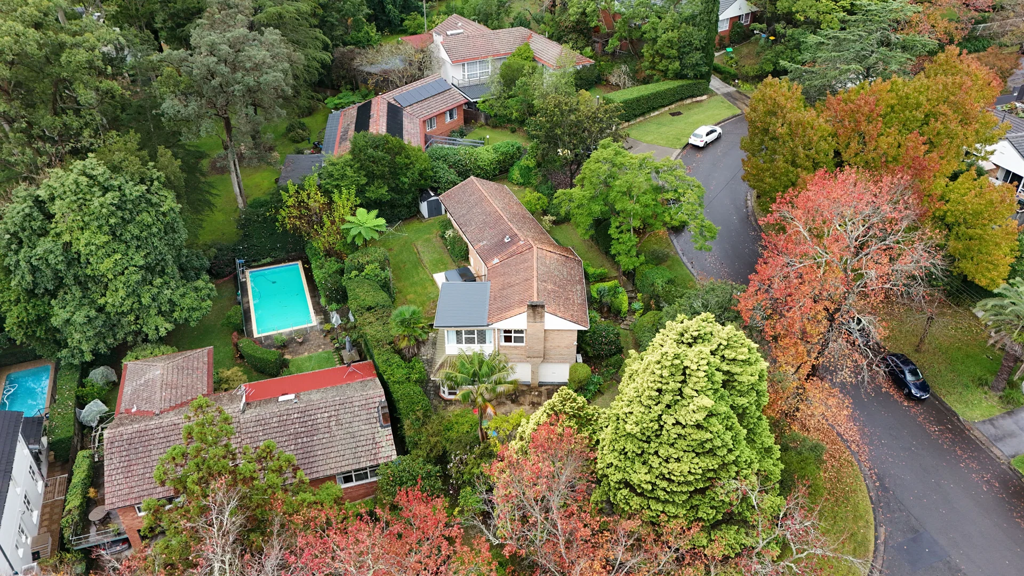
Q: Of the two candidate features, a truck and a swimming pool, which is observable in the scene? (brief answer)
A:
swimming pool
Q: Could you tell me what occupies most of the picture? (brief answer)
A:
trees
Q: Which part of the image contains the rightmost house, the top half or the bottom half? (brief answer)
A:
top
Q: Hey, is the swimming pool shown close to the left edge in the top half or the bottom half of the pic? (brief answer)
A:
bottom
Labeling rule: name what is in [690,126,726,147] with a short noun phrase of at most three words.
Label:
car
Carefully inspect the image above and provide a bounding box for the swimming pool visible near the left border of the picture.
[0,354,64,428]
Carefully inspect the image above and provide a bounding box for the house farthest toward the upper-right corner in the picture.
[975,99,1024,199]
